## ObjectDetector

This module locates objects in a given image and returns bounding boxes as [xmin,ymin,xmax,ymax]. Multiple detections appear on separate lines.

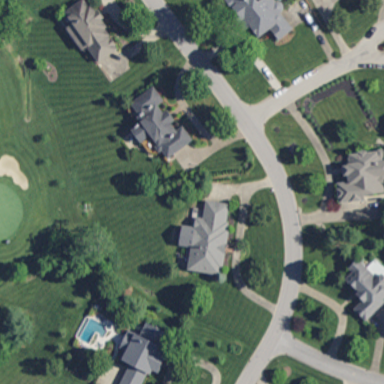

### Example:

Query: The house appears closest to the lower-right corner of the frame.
[345,258,384,325]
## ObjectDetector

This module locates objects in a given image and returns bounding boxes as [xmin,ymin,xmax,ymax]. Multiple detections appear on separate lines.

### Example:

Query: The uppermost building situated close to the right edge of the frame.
[330,146,384,209]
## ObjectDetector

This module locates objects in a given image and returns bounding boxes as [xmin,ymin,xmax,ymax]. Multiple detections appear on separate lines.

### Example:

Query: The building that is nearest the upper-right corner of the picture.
[222,0,296,42]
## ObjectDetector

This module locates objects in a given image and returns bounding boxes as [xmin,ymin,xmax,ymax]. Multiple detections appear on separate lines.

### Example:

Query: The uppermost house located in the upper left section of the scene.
[63,0,114,64]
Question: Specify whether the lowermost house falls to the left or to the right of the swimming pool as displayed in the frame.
to the right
